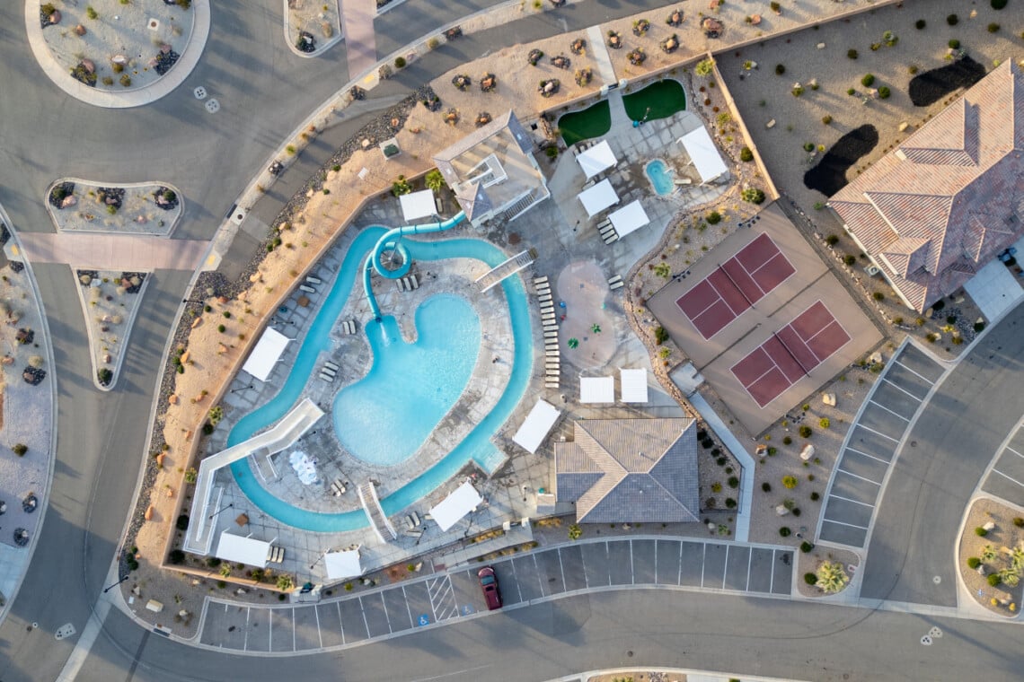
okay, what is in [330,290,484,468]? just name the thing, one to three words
swimming pool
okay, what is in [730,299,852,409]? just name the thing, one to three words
sports court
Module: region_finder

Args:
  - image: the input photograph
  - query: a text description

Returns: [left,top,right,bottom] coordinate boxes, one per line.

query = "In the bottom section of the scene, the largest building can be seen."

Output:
[554,418,700,524]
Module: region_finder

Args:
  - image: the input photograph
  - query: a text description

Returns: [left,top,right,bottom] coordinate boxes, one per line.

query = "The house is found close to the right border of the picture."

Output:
[826,59,1024,314]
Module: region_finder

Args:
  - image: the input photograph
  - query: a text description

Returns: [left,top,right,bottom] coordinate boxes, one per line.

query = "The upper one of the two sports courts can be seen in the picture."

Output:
[676,231,797,341]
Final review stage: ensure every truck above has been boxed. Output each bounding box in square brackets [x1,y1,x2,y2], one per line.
[475,567,499,616]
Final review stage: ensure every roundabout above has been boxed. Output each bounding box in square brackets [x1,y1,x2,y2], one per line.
[38,0,195,93]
